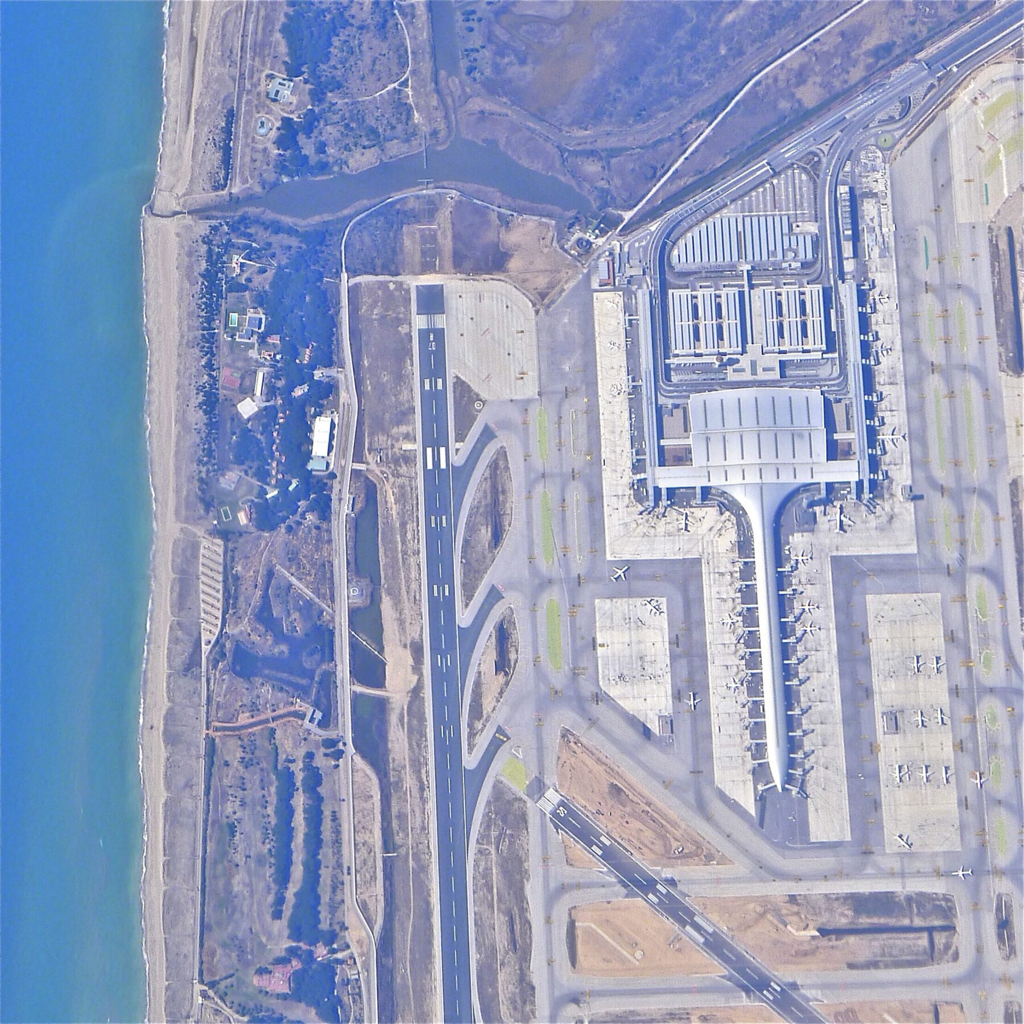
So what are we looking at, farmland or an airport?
airport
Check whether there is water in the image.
Yes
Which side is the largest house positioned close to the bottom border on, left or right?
left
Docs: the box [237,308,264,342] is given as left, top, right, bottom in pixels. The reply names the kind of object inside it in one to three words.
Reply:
house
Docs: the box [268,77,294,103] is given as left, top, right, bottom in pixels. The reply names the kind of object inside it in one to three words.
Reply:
house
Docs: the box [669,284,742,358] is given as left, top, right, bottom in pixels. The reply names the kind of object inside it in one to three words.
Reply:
building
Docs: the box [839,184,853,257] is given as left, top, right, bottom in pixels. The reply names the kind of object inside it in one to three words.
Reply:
building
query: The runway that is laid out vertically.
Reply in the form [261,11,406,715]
[411,282,477,1024]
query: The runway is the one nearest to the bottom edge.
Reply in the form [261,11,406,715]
[527,778,835,1024]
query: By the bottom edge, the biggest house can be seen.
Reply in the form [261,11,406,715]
[254,960,299,993]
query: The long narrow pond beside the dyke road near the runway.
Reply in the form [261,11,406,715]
[349,477,387,685]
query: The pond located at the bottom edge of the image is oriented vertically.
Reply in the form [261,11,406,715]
[353,696,395,1024]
